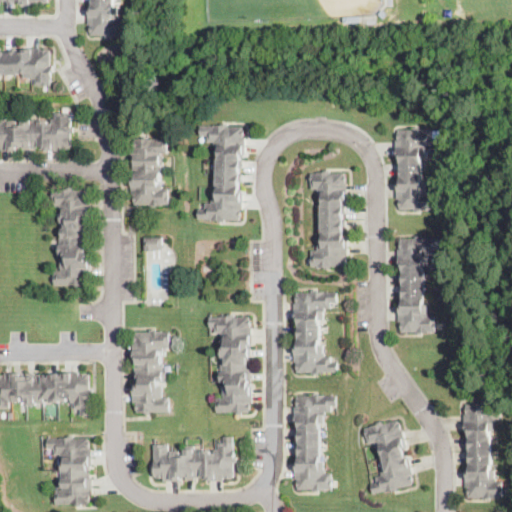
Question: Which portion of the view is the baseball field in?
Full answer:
The baseball field is located in the top region of the scene.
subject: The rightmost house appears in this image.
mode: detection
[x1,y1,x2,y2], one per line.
[462,404,500,500]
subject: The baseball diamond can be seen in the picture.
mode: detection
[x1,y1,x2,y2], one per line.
[208,0,404,28]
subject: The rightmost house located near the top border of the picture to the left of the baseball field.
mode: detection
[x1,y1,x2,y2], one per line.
[84,0,120,36]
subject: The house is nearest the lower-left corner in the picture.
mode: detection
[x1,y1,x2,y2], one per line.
[44,437,92,506]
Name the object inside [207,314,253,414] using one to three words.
house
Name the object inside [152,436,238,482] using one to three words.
house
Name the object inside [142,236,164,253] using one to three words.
building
